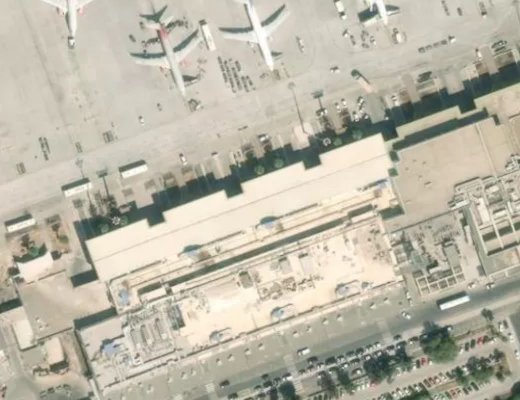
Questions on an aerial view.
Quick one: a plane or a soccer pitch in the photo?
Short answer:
plane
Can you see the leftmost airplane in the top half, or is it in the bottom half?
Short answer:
top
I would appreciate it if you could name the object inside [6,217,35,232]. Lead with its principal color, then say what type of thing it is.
white vehicle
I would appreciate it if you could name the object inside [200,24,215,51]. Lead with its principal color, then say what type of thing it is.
white vehicle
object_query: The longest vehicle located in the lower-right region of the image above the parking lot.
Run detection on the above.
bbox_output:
[439,293,469,309]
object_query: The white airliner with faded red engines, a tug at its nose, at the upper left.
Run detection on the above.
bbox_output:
[53,0,85,38]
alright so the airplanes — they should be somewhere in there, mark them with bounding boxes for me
[224,0,289,69]
[53,0,85,38]
[136,14,201,94]
[377,0,389,24]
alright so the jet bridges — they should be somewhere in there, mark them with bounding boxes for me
[352,72,375,94]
